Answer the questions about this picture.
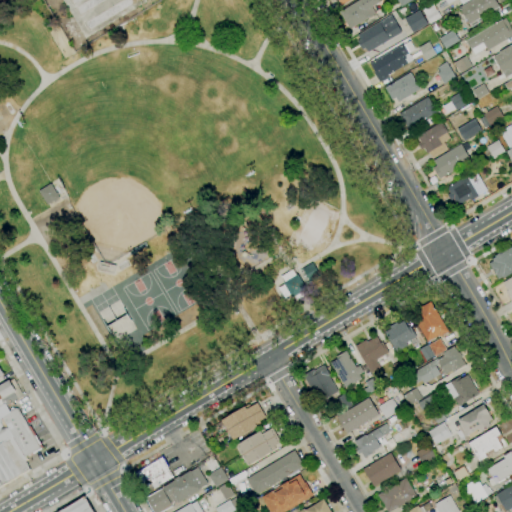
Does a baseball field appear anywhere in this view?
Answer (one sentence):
Yes, this view includes a baseball field.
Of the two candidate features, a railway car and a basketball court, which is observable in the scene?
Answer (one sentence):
The one in the frame is a basketball court.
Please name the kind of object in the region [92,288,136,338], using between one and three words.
sports court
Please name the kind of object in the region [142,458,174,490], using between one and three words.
building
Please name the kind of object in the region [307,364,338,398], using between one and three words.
house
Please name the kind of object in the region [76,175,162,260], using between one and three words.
baseball field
